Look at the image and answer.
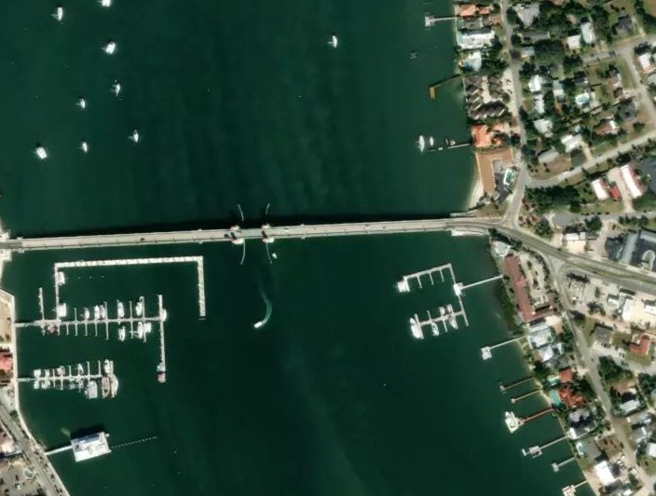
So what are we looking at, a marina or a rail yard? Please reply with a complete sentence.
The area seen from above is a marina.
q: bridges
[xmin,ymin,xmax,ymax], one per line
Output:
[0,219,479,251]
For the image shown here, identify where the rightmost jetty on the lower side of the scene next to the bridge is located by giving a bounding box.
[404,263,503,339]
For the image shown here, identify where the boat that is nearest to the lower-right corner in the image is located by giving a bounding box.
[504,412,520,434]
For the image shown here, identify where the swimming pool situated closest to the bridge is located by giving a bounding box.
[504,168,516,185]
